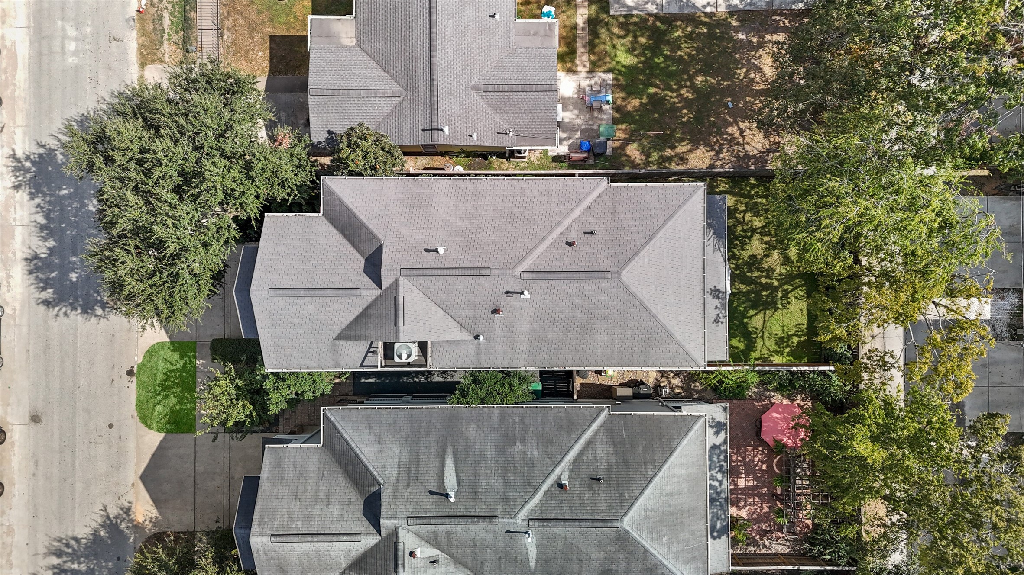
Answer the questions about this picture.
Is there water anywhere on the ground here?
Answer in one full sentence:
No, no water is visible.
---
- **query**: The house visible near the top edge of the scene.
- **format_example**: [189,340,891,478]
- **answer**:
[306,0,562,150]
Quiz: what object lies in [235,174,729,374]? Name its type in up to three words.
house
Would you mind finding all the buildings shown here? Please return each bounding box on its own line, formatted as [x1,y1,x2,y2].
[235,174,729,374]
[235,395,729,575]
[306,0,562,150]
